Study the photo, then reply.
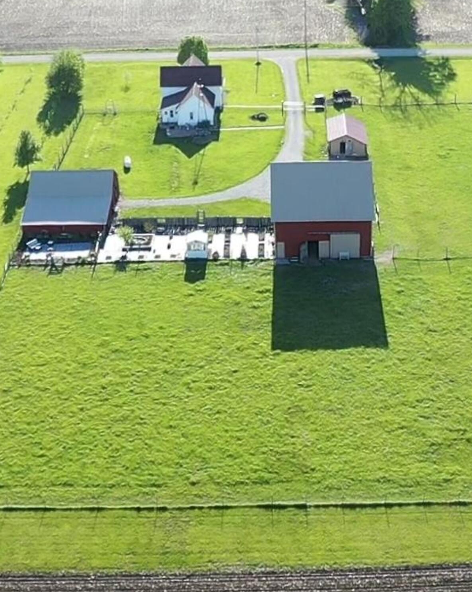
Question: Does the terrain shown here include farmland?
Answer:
Yes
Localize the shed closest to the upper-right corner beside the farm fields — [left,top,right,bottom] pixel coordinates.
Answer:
[328,109,369,156]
